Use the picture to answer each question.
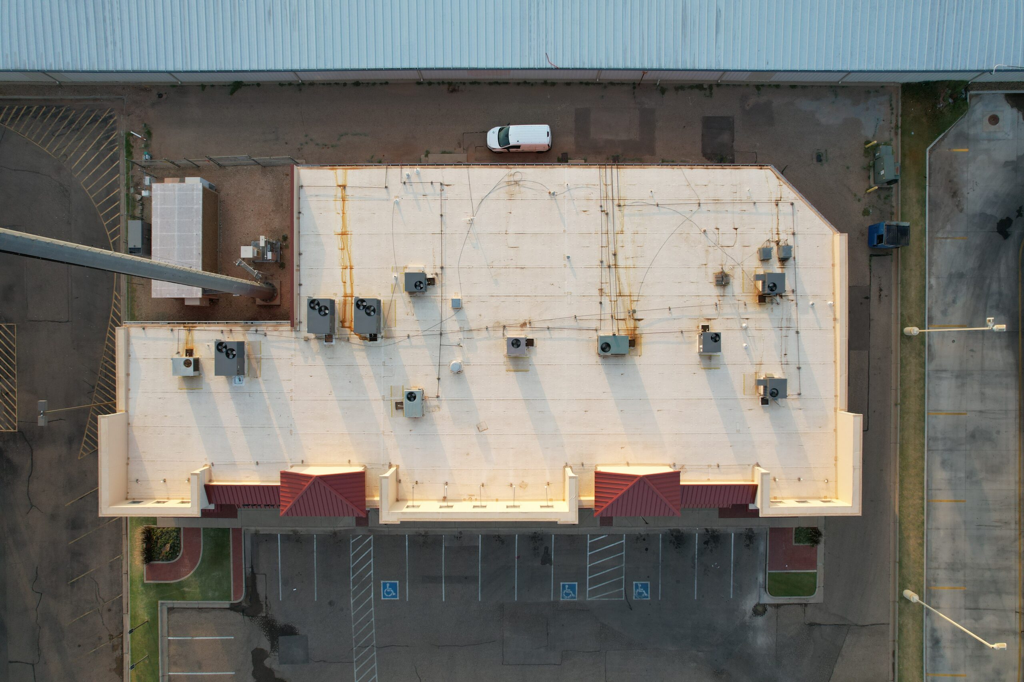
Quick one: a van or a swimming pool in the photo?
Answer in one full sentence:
This aerial view contains a van.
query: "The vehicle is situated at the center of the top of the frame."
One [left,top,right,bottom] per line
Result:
[487,124,553,154]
